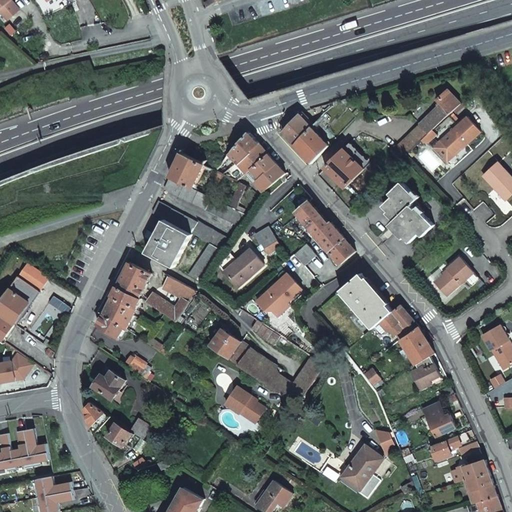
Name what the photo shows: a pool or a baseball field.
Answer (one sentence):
The one in the frame is a pool.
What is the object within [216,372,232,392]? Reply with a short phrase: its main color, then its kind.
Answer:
white swimming pool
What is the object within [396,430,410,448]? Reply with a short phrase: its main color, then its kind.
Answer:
blue swimming pool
